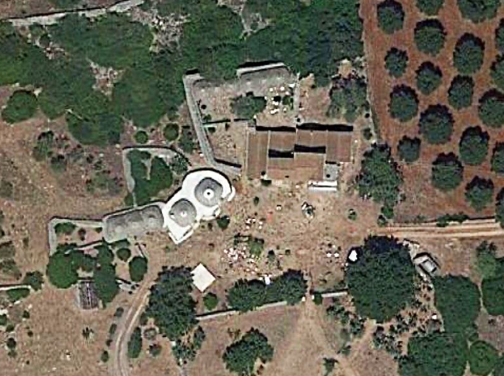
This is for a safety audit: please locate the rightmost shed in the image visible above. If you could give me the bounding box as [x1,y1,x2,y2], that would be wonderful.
[414,256,439,281]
